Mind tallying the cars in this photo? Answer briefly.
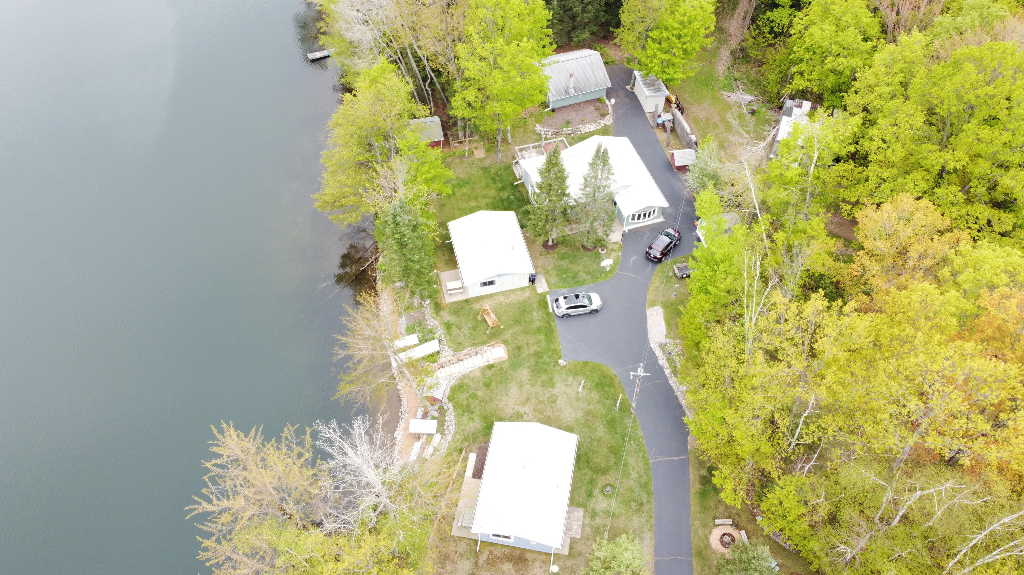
2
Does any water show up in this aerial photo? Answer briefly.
Yes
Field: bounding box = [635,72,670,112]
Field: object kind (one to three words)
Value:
shed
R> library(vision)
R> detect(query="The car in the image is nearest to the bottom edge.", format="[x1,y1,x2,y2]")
[552,290,602,316]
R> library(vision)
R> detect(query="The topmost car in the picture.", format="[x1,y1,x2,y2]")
[645,226,681,260]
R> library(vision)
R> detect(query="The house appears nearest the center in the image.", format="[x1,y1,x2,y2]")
[445,210,536,298]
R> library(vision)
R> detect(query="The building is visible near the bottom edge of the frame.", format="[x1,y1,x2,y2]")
[468,422,580,575]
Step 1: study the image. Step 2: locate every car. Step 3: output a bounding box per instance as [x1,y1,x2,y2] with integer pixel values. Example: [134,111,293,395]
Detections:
[552,290,602,316]
[645,226,681,260]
